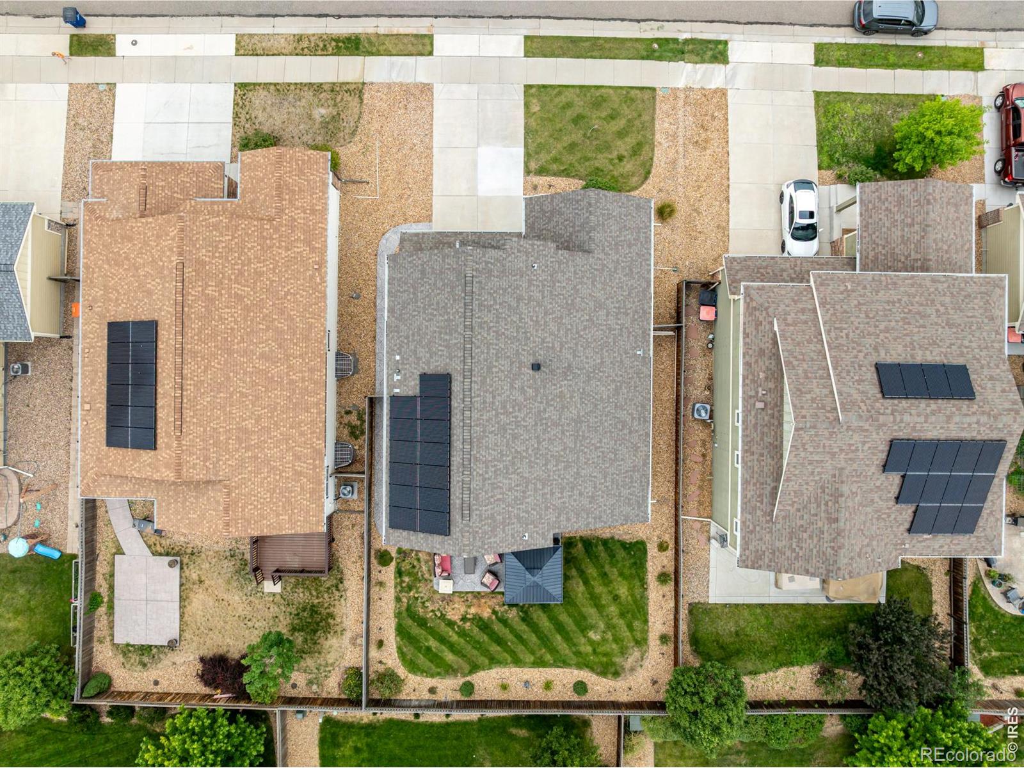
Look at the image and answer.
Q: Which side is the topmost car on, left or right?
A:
right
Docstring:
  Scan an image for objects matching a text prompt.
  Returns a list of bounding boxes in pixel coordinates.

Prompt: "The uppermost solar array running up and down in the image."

[106,319,157,451]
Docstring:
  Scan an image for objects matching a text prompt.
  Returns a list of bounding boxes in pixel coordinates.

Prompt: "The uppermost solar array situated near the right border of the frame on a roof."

[876,363,976,401]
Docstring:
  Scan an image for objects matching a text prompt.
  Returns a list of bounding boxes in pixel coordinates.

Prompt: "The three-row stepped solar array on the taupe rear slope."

[884,439,1006,535]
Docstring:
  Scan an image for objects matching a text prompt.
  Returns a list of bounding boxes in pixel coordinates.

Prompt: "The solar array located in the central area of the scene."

[389,374,451,537]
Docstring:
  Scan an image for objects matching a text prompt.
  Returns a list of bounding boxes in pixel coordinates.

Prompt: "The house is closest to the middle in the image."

[382,190,657,554]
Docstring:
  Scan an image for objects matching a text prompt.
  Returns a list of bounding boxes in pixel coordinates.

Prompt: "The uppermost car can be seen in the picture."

[856,0,943,38]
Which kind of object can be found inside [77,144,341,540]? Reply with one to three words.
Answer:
house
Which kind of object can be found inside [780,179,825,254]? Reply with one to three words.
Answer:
car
